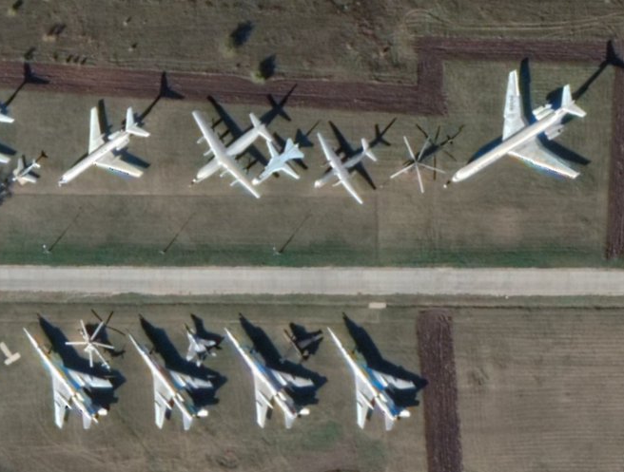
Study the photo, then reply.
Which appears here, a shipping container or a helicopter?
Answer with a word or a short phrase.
helicopter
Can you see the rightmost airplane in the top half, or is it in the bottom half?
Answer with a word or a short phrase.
top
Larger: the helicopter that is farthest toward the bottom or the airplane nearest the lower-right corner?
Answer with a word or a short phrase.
the airplane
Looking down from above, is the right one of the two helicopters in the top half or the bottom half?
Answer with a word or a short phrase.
top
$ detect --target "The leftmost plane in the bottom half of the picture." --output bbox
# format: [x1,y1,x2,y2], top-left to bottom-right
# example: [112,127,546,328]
[23,329,113,431]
